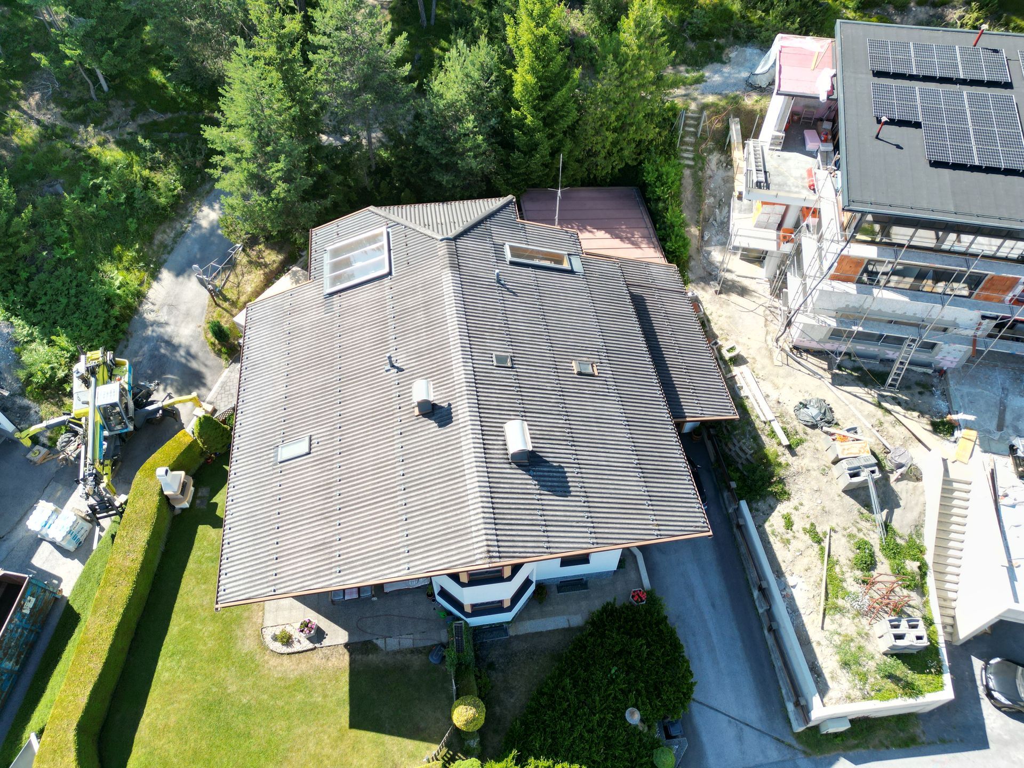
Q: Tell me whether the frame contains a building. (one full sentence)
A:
Yes, the picture does show a building.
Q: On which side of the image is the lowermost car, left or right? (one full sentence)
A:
The lowermost car sits on the right side.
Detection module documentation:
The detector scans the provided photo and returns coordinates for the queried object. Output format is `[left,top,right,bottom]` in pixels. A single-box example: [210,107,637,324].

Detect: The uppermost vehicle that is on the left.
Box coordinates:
[16,350,209,549]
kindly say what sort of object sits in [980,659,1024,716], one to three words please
car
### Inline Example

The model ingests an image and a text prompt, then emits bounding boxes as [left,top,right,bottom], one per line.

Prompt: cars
[677,425,713,510]
[980,659,1024,716]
